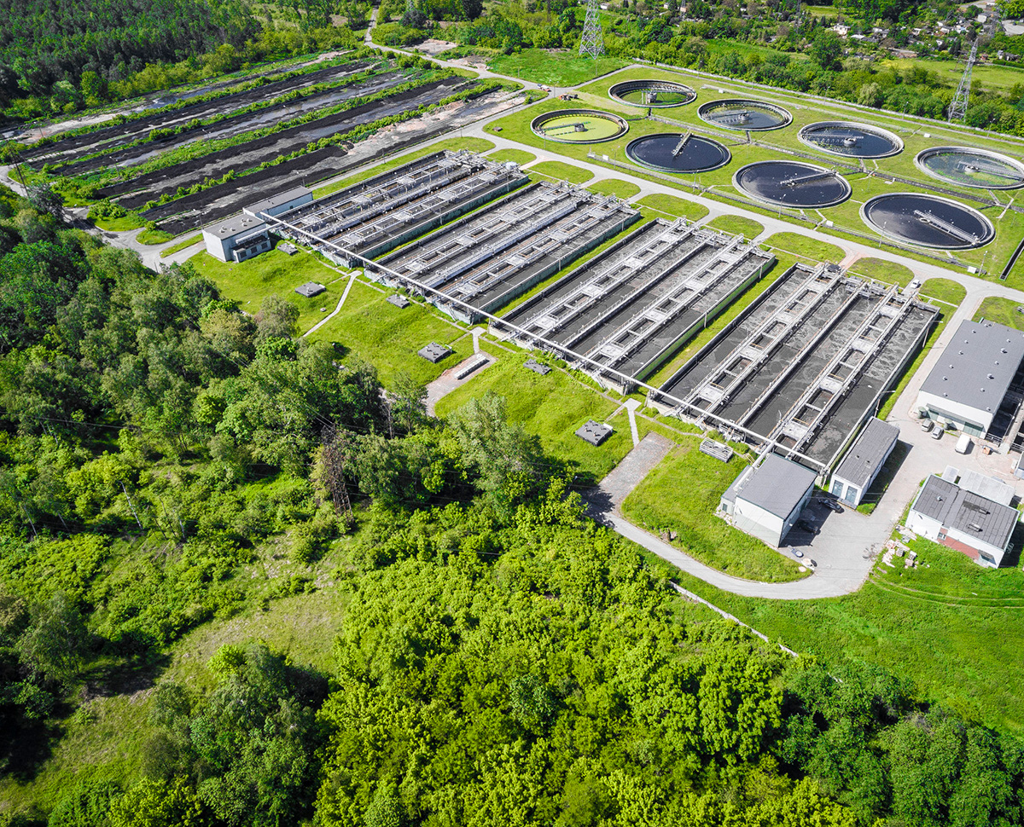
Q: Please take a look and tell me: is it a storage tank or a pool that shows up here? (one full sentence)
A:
The one in the frame is a storage tank.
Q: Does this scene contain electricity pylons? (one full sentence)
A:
Yes, an electricity pylon can be made out from above.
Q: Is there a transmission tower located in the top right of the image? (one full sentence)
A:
Yes, you'll find a transmission tower in the top right of the image.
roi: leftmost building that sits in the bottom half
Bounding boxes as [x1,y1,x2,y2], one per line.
[718,453,820,546]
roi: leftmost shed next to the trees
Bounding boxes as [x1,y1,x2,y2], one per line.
[201,214,269,260]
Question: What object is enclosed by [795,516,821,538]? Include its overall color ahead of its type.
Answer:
black car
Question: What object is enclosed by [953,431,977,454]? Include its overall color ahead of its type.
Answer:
white vehicle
